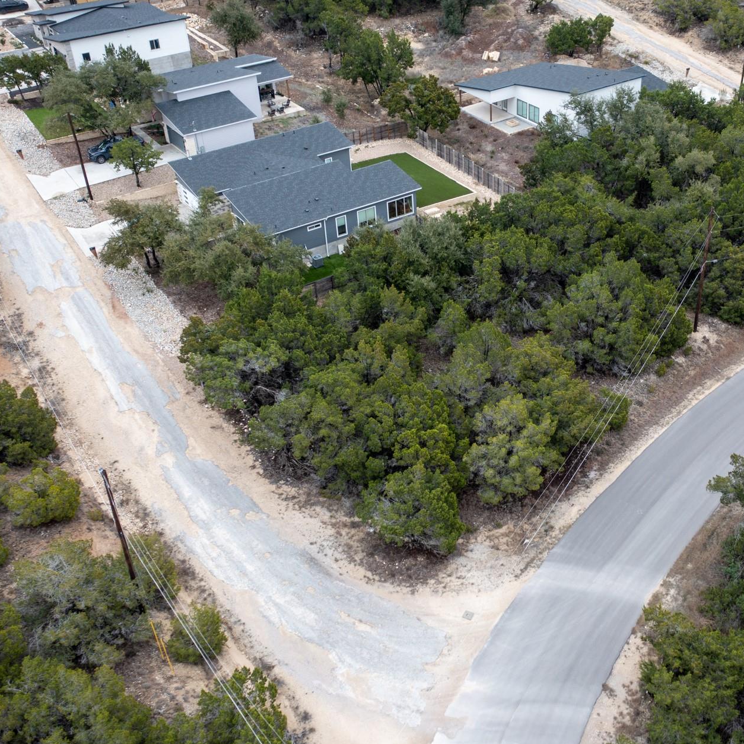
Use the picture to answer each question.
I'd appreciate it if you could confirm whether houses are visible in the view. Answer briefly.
Yes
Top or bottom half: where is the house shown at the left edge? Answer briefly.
top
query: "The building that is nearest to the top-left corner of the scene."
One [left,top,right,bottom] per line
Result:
[25,0,191,68]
